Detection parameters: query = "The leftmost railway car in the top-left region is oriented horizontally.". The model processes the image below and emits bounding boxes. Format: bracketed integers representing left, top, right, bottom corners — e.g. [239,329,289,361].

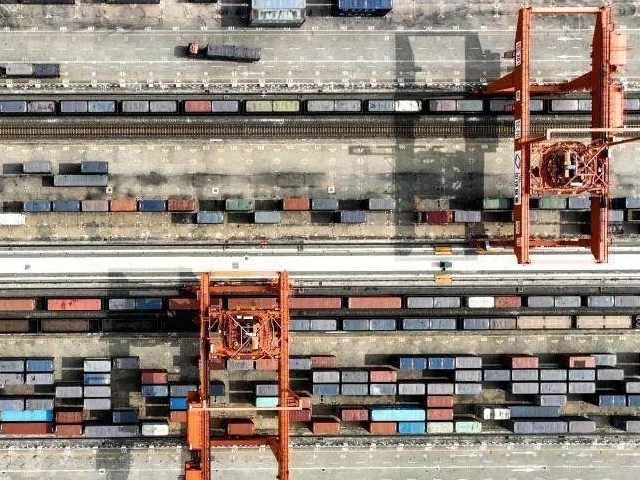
[0,100,59,117]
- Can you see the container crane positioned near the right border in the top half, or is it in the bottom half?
top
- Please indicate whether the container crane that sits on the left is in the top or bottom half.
bottom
